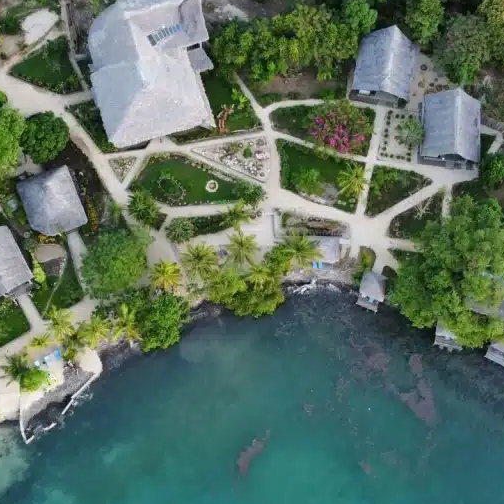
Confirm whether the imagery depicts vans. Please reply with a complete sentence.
No, no van is visible in the scene.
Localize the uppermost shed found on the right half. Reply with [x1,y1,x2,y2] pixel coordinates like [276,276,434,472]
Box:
[348,24,418,110]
